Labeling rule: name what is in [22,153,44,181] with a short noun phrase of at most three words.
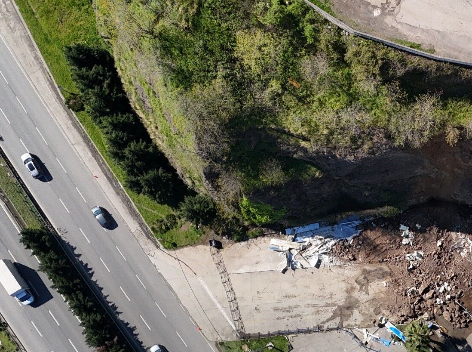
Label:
car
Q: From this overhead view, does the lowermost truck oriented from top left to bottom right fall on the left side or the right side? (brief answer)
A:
left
